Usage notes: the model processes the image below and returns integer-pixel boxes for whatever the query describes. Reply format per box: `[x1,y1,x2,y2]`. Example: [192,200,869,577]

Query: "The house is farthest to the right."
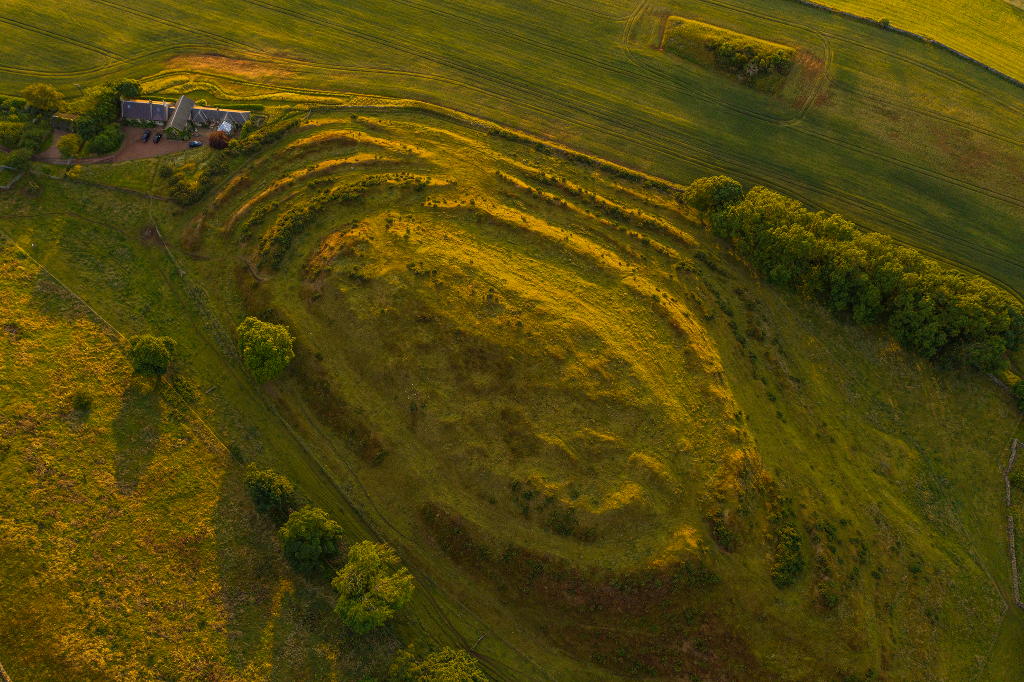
[121,93,254,138]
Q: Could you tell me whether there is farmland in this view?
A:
Yes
